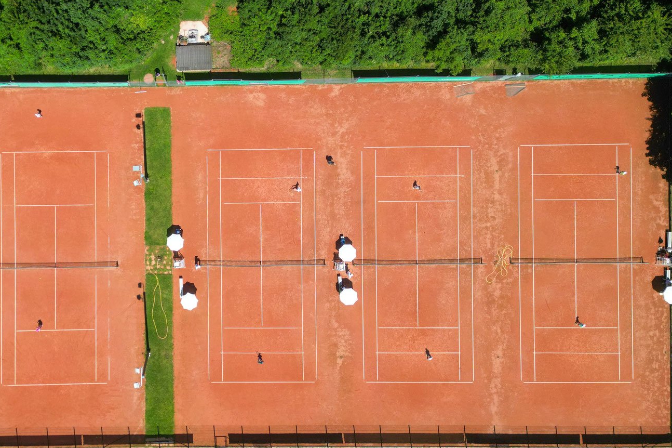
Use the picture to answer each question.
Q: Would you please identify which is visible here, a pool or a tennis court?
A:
tennis court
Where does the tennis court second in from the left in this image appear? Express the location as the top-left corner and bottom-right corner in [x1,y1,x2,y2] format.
[159,85,341,447]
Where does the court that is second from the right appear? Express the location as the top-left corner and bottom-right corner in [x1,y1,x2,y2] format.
[340,83,496,446]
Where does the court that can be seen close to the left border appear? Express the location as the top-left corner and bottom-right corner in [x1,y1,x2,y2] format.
[0,87,160,447]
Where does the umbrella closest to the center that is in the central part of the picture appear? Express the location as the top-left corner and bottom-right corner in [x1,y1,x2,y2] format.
[339,245,355,261]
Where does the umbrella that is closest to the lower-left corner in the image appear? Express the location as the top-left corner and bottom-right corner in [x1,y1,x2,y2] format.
[181,293,197,310]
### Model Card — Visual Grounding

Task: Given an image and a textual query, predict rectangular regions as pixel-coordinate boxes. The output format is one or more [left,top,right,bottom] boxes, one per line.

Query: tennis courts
[0,87,160,447]
[340,83,496,446]
[159,85,341,447]
[496,81,672,446]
